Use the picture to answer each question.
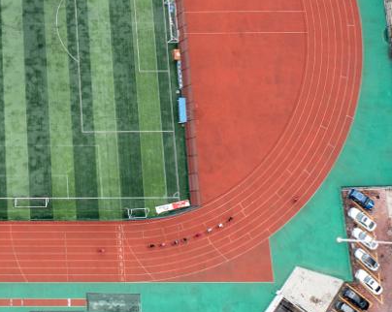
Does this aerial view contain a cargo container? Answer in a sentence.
No, I can see no cargo container in this picture.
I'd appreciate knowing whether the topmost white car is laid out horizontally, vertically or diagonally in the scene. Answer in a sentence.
The topmost white car runs diagonally in the image.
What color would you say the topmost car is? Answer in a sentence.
The topmost car looks blue in the image.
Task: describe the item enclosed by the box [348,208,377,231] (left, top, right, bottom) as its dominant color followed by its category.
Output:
white car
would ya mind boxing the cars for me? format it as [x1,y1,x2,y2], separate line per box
[354,270,383,295]
[348,208,377,231]
[347,186,376,211]
[350,227,379,252]
[333,299,357,312]
[352,248,381,272]
[340,285,369,311]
